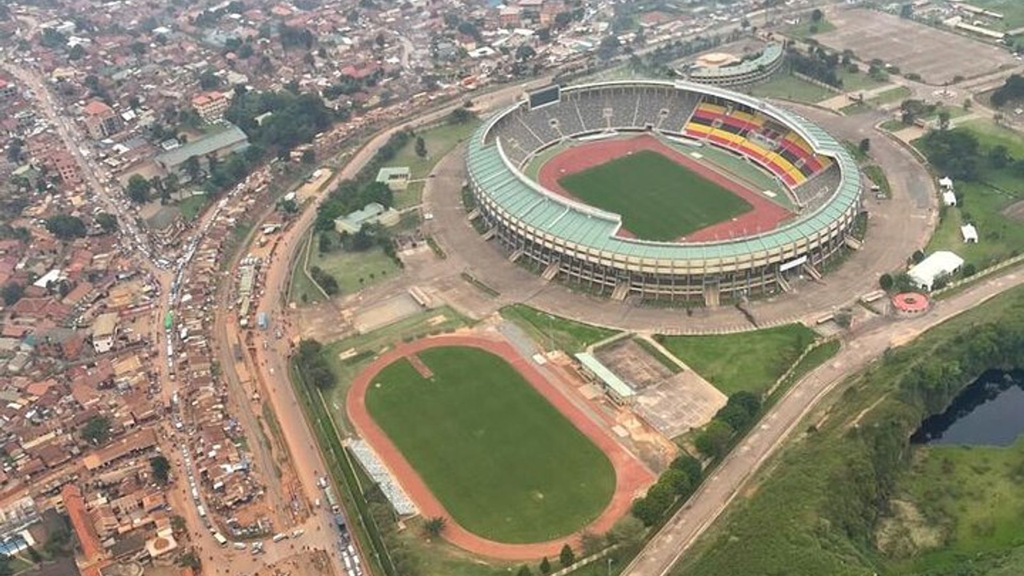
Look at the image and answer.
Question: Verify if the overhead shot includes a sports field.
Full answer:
Yes, you can see a sports field in this photo.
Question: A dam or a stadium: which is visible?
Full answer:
The one in the frame is a stadium.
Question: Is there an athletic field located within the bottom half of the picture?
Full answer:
Yes, an athletic field can be seen within the bottom half of the picture.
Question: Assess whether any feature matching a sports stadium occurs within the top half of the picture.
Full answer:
Yes, you'll find a sports stadium within the top half of the picture.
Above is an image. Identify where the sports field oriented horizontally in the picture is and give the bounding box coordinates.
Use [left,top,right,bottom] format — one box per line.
[560,149,755,240]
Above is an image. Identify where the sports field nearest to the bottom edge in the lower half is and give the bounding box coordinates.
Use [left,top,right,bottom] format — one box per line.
[365,345,616,544]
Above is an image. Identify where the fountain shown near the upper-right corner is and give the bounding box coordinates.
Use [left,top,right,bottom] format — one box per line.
[929,85,957,99]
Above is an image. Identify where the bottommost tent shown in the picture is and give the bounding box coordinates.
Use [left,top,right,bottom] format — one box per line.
[908,250,965,286]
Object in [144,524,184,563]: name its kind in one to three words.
building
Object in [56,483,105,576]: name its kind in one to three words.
house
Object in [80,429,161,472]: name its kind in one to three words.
shed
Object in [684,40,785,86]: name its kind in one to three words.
stadium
